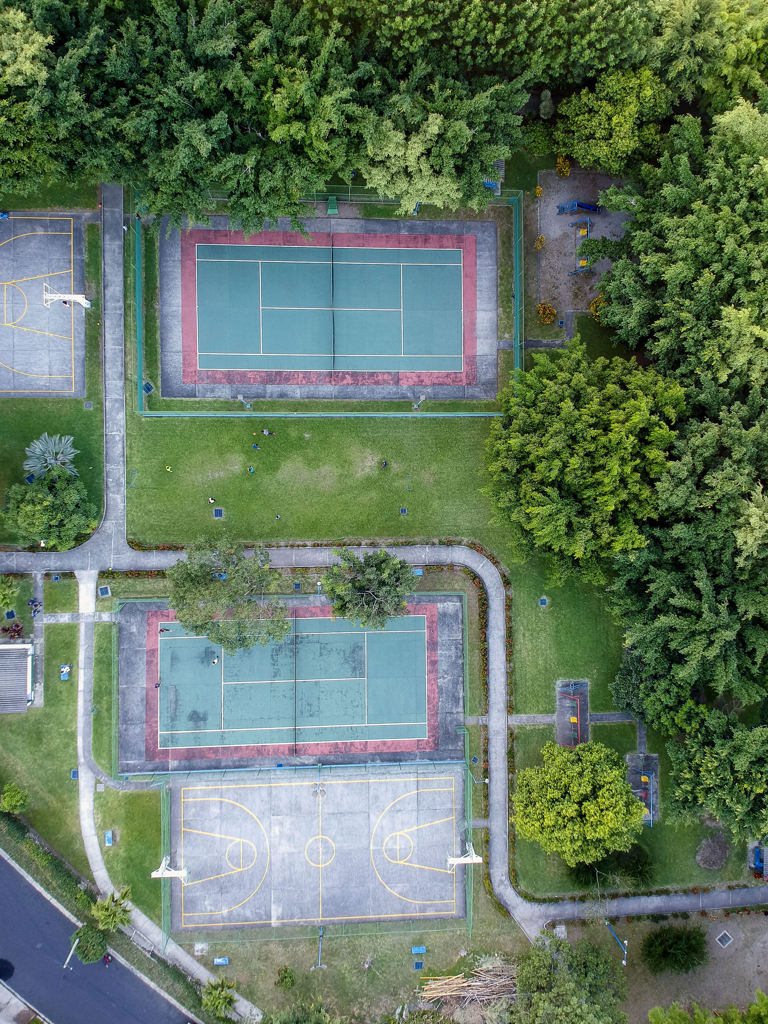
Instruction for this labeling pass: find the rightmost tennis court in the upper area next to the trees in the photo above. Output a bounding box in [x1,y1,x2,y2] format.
[159,216,497,399]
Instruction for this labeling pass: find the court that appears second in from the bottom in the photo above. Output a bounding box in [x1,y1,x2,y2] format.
[118,596,465,775]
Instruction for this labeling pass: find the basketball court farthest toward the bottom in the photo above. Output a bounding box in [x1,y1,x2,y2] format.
[170,766,466,934]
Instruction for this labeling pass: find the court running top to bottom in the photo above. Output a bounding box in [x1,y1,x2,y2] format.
[0,211,86,397]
